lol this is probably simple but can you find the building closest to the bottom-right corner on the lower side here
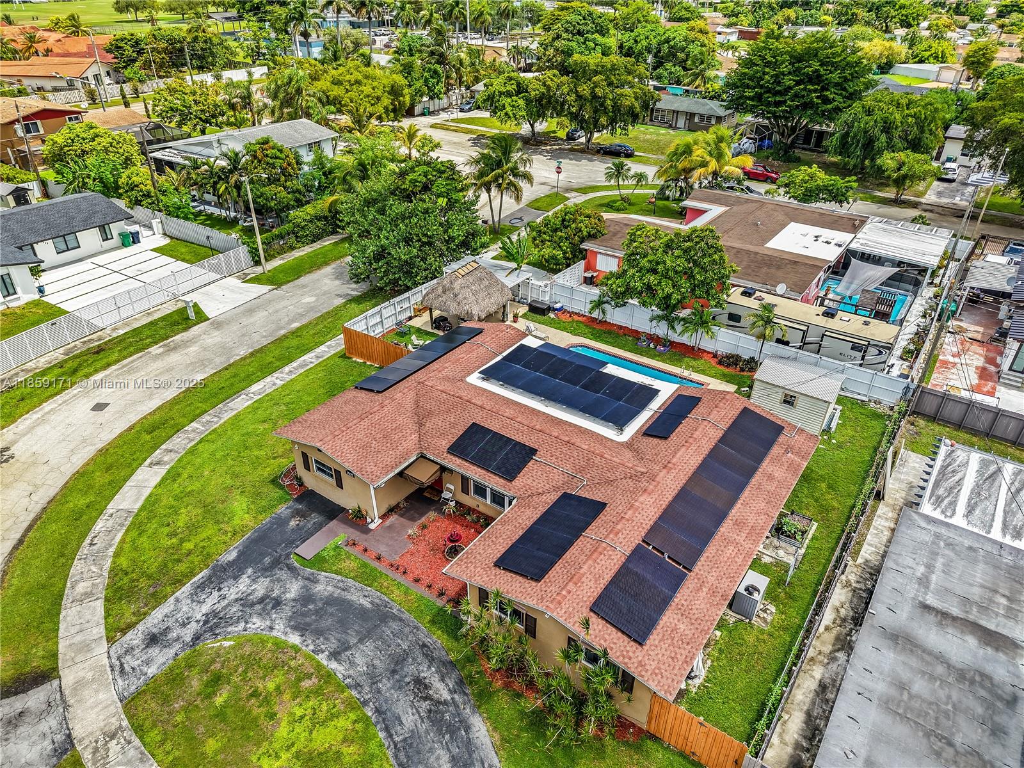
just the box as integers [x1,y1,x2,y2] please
[809,509,1024,768]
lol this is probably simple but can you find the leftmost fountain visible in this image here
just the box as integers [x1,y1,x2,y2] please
[442,526,466,544]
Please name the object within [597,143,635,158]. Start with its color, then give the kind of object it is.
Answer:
black car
